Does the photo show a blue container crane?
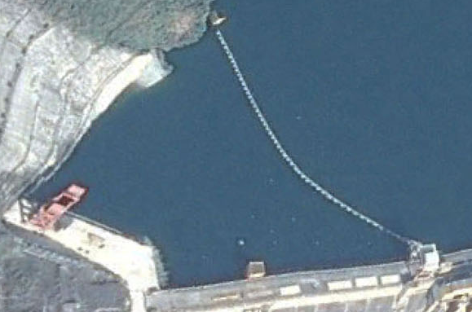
No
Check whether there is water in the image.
Yes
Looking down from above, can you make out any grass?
No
